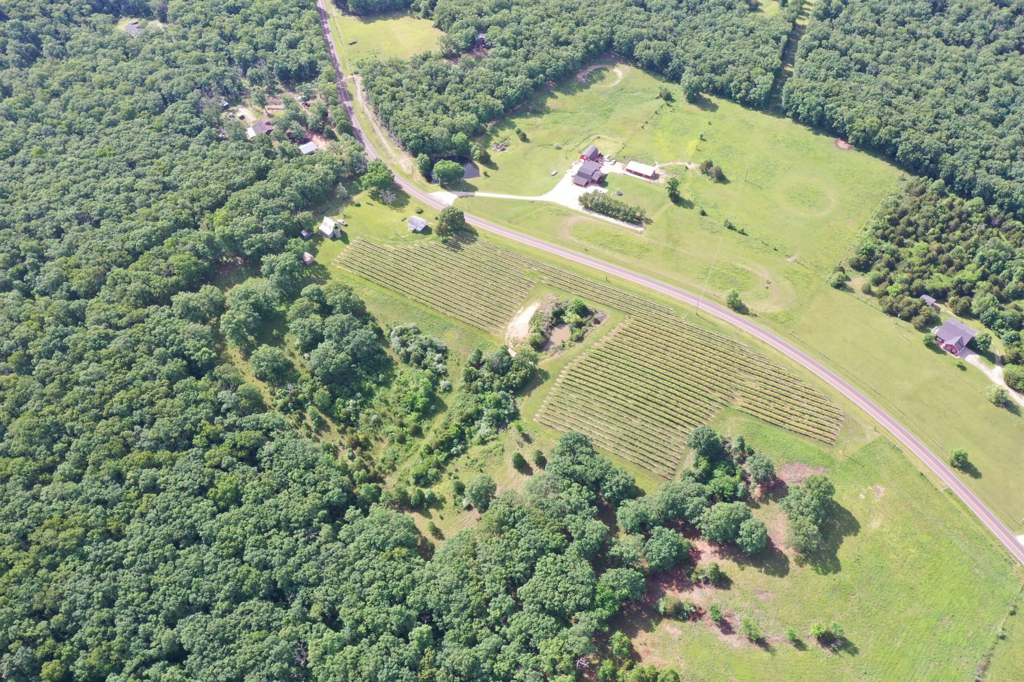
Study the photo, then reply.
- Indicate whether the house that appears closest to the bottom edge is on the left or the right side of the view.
right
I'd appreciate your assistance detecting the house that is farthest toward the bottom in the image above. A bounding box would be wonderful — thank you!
[932,318,978,355]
